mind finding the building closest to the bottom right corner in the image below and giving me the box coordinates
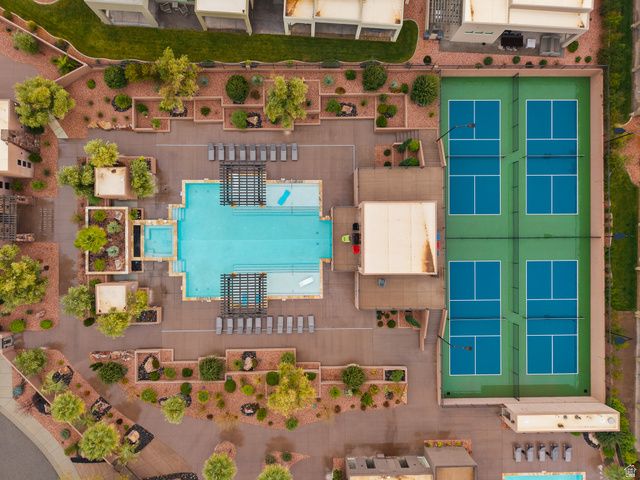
[502,406,619,432]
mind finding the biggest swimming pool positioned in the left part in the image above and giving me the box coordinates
[169,178,332,301]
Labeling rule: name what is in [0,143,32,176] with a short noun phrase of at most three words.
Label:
house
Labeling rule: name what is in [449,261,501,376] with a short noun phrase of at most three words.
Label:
sports court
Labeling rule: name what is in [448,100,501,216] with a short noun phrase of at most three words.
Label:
sports court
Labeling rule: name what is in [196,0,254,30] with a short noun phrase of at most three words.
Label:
house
